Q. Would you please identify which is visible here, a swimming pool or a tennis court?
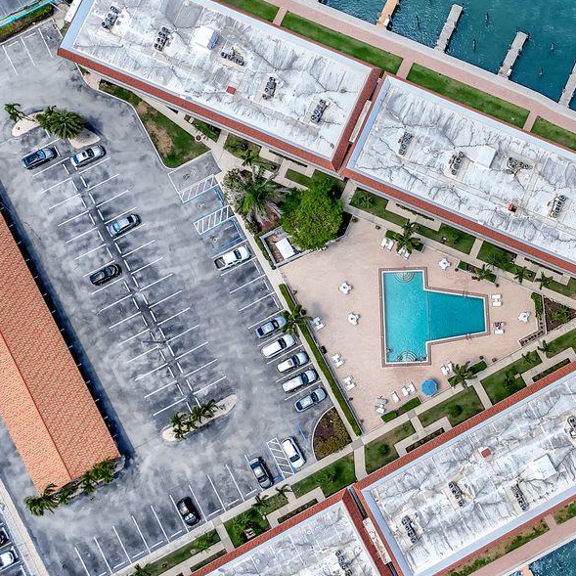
swimming pool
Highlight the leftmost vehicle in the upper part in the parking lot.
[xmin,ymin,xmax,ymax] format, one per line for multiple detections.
[19,145,60,171]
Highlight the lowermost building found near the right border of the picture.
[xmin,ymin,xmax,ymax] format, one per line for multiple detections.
[351,362,576,576]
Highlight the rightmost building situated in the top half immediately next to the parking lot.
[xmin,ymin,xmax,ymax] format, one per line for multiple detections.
[339,69,576,278]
